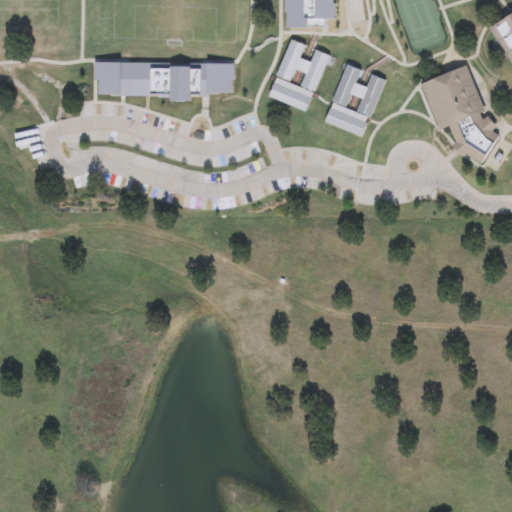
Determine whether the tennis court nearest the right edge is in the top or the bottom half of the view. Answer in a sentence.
The top half of the photo is where the tennis court nearest the right edge is.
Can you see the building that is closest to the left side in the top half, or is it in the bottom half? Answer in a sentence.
You can find the building that is closest to the left side in the top half.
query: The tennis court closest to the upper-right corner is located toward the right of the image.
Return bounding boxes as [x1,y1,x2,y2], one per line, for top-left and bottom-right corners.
[394,0,445,53]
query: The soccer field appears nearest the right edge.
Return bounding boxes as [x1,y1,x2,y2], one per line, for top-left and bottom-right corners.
[100,0,237,42]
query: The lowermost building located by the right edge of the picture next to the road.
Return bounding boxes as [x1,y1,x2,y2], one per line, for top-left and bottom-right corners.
[422,62,502,162]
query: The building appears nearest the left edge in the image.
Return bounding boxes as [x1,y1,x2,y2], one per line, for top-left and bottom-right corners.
[94,61,235,101]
